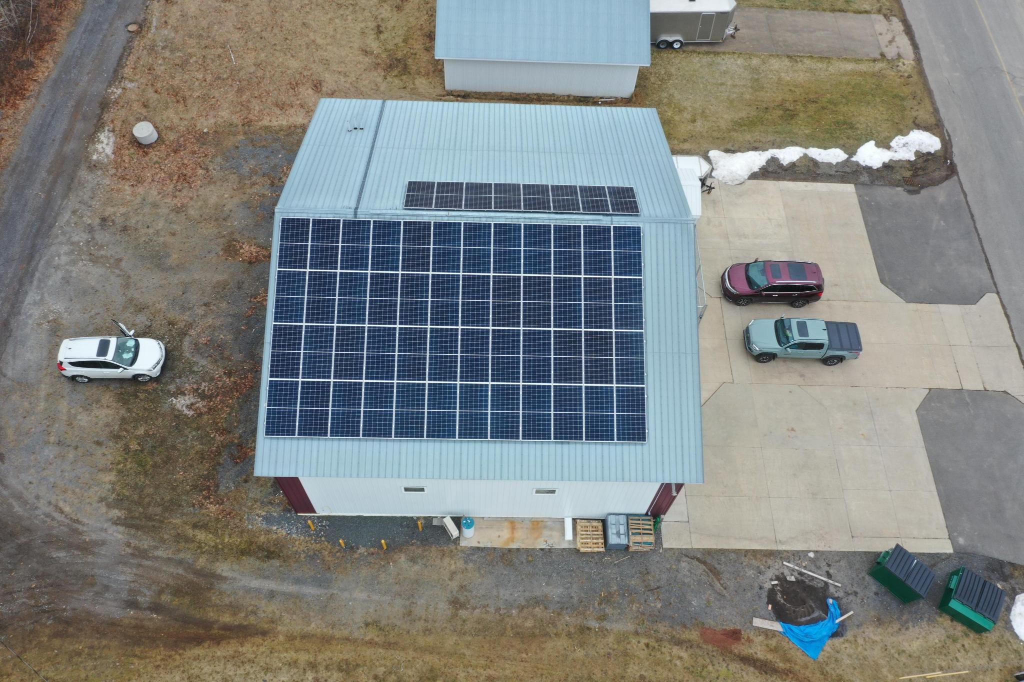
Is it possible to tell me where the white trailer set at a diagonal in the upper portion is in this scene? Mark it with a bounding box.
[674,156,722,196]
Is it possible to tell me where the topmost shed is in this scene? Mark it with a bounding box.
[434,0,651,96]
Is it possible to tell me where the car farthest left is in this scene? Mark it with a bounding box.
[56,317,167,382]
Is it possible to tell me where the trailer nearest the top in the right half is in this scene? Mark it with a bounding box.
[650,0,744,50]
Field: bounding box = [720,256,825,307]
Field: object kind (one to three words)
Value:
car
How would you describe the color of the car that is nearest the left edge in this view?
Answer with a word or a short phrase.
white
